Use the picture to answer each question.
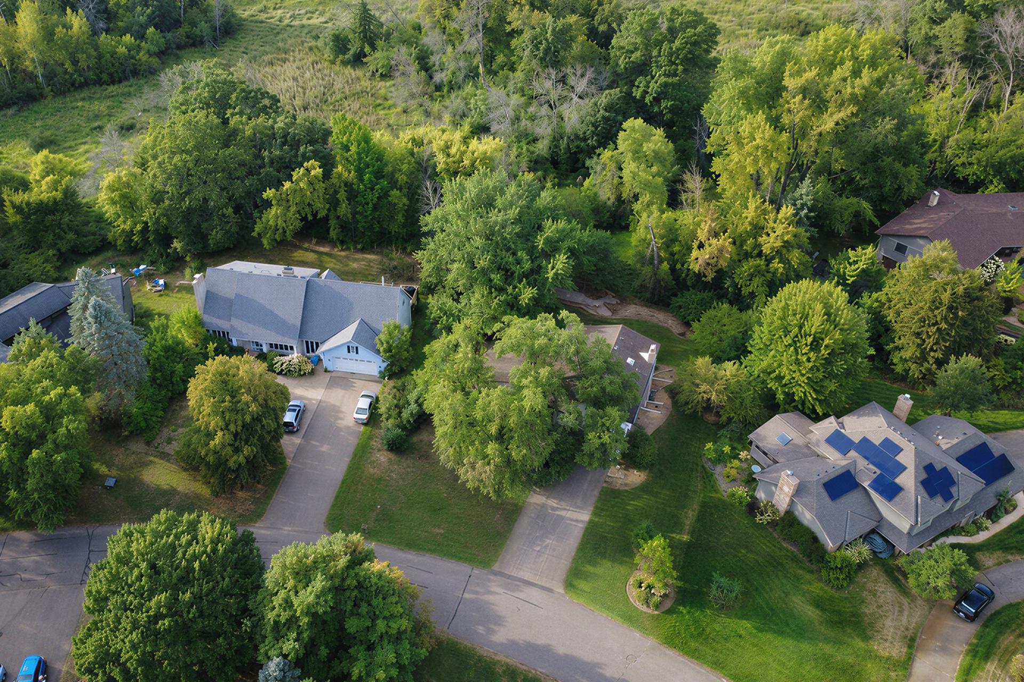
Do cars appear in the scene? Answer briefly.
Yes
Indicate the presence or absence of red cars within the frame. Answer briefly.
No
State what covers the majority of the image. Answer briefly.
trees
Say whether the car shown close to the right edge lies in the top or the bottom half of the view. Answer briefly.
bottom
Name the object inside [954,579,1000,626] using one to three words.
car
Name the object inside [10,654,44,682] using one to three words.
car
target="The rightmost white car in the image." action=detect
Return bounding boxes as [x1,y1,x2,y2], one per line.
[352,390,374,423]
